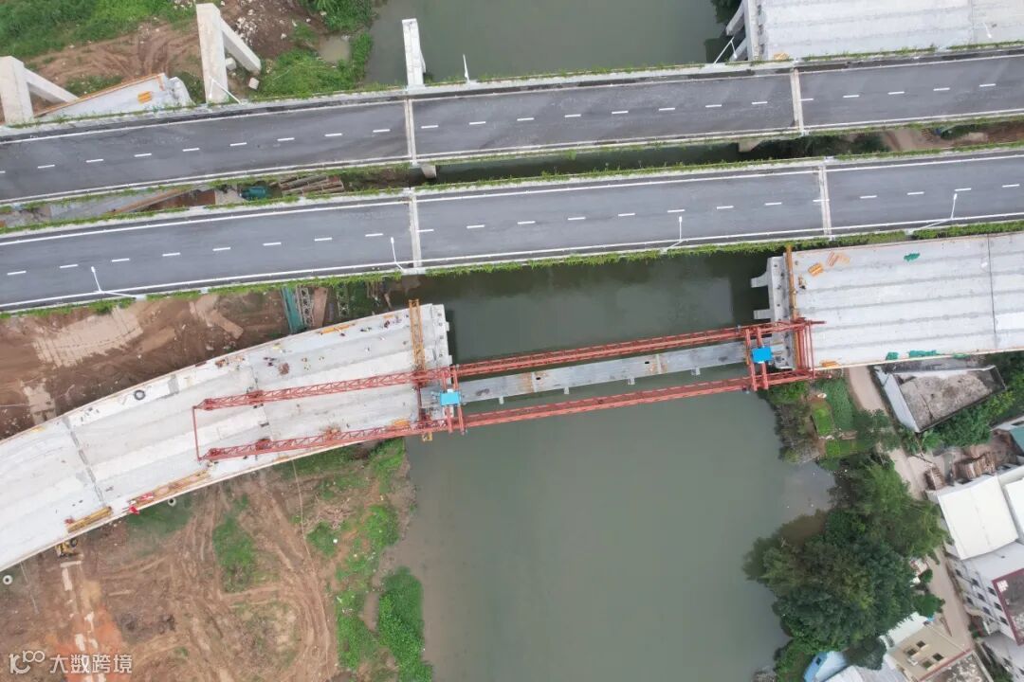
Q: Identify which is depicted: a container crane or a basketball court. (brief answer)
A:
container crane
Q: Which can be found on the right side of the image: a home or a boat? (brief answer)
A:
home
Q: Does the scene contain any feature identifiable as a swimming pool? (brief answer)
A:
No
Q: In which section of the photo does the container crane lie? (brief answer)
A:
center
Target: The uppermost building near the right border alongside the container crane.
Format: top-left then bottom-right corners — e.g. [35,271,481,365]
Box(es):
[875,364,1008,432]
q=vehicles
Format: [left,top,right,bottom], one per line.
[41,536,76,565]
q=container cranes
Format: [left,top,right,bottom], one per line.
[192,315,831,463]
